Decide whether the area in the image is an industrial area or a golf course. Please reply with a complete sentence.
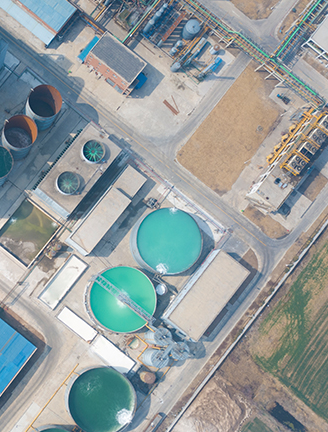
This image shows an industrial area.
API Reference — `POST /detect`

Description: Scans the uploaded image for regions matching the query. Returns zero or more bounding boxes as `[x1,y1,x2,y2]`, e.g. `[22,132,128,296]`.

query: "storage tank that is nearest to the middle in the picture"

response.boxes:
[130,209,202,276]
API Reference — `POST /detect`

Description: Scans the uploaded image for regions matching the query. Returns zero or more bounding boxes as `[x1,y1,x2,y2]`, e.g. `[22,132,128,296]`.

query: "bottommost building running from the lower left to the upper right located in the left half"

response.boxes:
[68,165,147,256]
